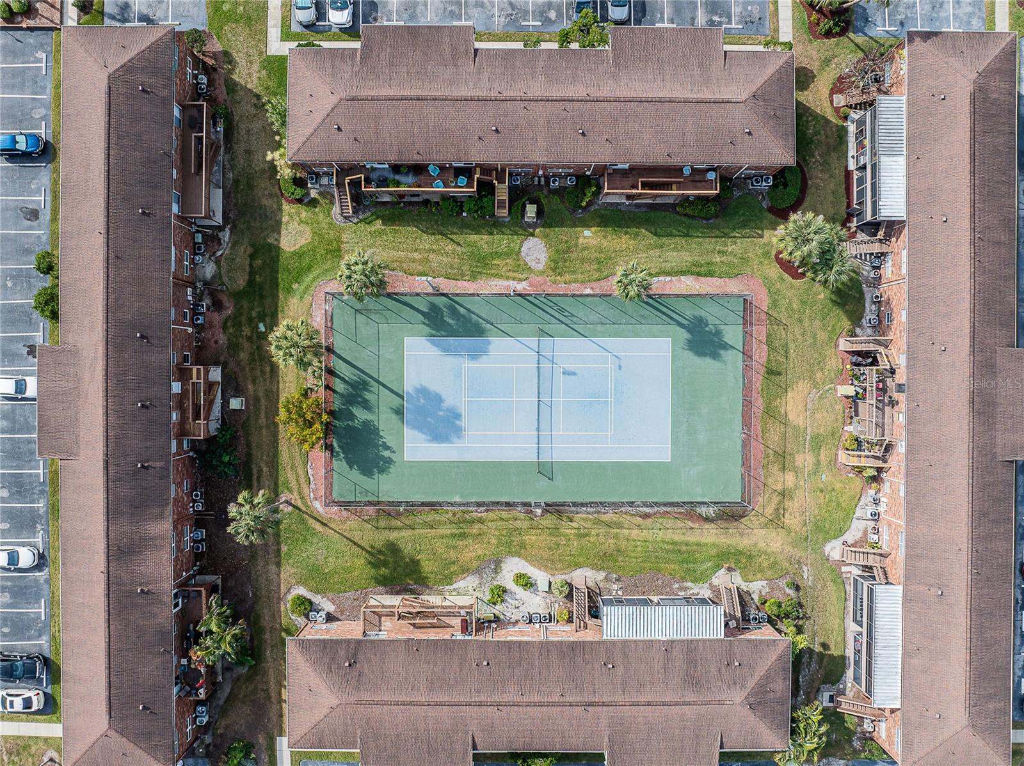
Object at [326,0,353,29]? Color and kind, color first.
white car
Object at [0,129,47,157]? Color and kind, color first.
blue car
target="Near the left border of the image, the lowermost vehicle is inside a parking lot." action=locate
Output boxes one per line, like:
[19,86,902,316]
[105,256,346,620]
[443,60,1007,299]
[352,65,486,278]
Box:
[0,688,45,716]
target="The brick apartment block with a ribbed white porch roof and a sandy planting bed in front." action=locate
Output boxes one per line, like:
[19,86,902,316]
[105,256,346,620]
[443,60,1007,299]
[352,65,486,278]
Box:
[286,573,792,766]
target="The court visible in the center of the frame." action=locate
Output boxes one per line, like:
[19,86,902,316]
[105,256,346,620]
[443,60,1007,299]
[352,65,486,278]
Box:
[332,297,744,502]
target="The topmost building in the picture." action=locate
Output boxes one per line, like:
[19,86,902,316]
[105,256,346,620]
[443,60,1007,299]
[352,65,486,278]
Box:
[287,24,796,218]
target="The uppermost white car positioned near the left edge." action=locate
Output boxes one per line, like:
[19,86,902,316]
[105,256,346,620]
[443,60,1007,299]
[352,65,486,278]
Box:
[0,375,35,400]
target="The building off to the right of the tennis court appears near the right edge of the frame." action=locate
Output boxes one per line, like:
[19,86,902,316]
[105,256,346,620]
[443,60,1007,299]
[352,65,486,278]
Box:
[823,30,1024,766]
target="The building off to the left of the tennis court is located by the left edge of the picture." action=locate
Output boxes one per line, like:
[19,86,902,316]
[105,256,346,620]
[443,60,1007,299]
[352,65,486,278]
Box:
[35,25,224,766]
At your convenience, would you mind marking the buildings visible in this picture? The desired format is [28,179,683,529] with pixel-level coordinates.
[287,24,796,218]
[823,30,1024,766]
[35,25,224,766]
[286,573,792,766]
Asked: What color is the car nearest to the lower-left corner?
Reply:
white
